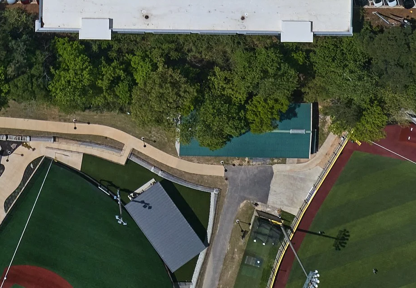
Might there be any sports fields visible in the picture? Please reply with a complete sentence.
Yes, a sports field is visible in the scene.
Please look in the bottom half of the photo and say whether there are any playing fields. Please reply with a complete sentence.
Yes, I can see a playing field in the bottom half of the photo.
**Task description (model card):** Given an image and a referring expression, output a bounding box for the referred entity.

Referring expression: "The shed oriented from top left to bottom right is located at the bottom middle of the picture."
[123,173,209,273]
